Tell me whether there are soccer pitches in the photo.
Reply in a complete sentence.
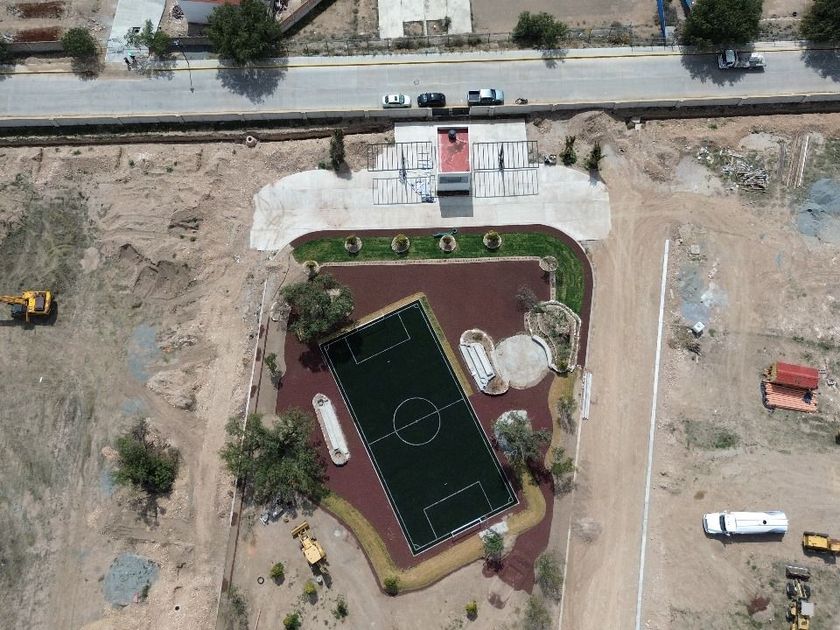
Yes, there's a soccer pitch here.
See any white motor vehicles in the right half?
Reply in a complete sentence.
Yes, in the right half there is a white motor vehicle.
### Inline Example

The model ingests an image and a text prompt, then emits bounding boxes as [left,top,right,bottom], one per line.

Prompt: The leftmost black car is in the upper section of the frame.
[417,92,445,107]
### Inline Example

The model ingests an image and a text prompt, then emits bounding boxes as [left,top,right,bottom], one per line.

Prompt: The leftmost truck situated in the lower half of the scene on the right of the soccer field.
[696,509,789,535]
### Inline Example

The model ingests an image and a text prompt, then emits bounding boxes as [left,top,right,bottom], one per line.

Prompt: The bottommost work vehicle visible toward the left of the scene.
[293,514,330,570]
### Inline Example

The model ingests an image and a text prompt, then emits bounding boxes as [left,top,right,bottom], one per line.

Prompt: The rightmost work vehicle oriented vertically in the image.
[780,564,817,630]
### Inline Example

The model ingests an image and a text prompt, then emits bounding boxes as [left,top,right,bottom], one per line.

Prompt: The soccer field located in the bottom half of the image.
[319,299,518,556]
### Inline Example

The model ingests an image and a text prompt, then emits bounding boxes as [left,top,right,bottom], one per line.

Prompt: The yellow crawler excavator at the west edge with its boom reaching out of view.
[0,290,61,314]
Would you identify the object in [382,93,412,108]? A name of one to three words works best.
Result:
car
